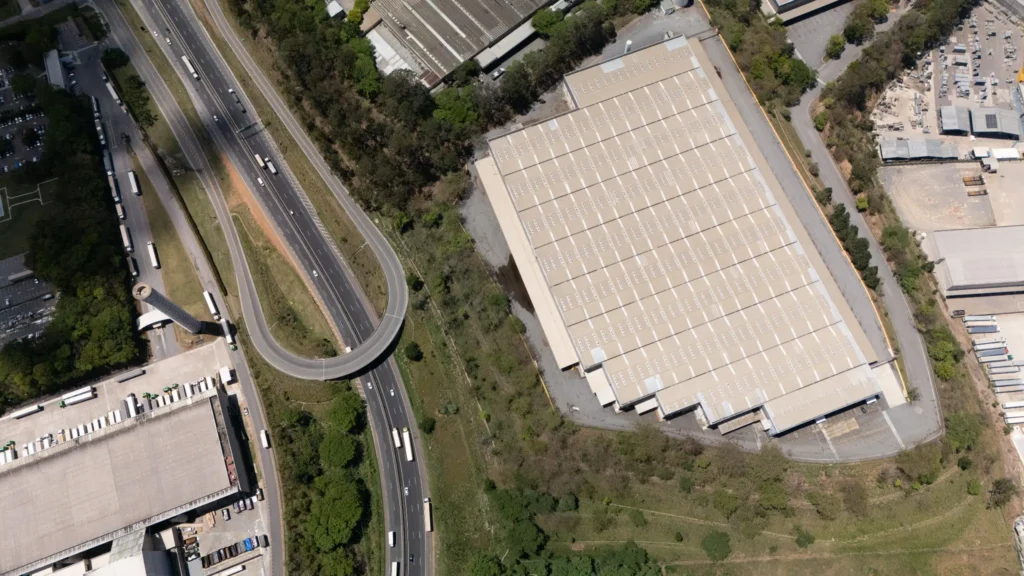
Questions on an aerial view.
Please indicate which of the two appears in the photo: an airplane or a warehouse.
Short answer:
warehouse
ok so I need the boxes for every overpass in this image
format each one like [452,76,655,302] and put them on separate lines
[326,293,405,381]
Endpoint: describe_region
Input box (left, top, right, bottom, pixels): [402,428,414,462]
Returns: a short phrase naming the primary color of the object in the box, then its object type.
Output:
white vehicle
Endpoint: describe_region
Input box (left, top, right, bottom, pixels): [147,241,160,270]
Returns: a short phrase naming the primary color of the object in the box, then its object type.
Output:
white vehicle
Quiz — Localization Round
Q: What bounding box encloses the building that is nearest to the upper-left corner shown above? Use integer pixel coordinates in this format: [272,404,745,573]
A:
[45,50,69,92]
